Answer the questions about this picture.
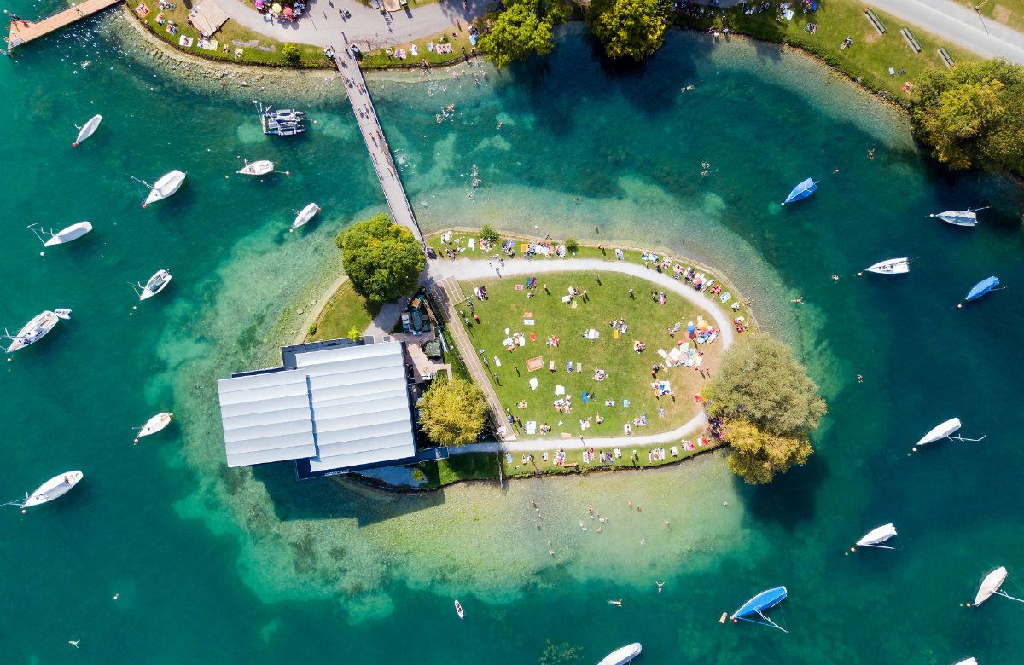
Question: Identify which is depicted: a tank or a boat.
boat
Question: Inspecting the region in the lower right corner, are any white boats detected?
Yes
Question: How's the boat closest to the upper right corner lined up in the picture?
from left to right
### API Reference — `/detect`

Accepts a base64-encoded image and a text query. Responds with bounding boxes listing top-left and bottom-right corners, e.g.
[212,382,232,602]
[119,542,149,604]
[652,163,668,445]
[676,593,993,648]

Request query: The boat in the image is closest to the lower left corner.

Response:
[1,469,88,510]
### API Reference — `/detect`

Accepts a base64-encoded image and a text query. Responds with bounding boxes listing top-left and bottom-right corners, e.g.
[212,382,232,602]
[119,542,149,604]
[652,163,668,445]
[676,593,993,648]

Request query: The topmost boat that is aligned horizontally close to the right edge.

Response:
[935,200,991,226]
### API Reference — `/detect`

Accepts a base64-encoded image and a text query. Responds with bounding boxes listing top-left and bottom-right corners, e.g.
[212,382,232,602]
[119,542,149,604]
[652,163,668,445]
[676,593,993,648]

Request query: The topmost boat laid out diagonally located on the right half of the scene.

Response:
[784,178,820,204]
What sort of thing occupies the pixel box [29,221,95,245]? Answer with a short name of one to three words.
boat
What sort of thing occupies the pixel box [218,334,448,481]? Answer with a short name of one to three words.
building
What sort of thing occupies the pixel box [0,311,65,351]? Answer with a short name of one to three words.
boat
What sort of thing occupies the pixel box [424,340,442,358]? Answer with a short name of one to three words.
umbrella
